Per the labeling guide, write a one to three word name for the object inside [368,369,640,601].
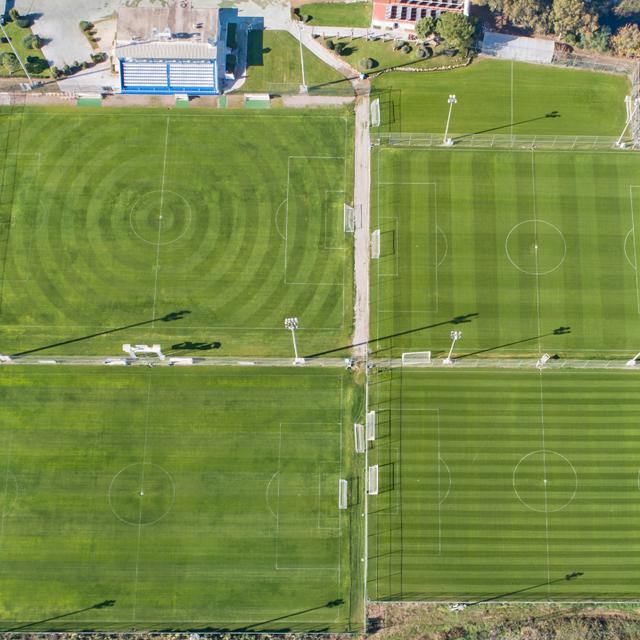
soccer field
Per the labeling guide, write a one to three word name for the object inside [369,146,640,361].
soccer field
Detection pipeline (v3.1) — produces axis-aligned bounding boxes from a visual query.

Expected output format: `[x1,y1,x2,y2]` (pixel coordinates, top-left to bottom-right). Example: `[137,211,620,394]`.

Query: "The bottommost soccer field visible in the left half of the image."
[0,367,365,636]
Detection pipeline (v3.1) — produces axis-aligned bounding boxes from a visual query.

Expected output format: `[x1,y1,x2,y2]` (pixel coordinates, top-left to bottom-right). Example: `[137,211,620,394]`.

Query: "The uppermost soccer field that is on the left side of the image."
[0,107,350,359]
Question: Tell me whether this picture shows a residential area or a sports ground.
sports ground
